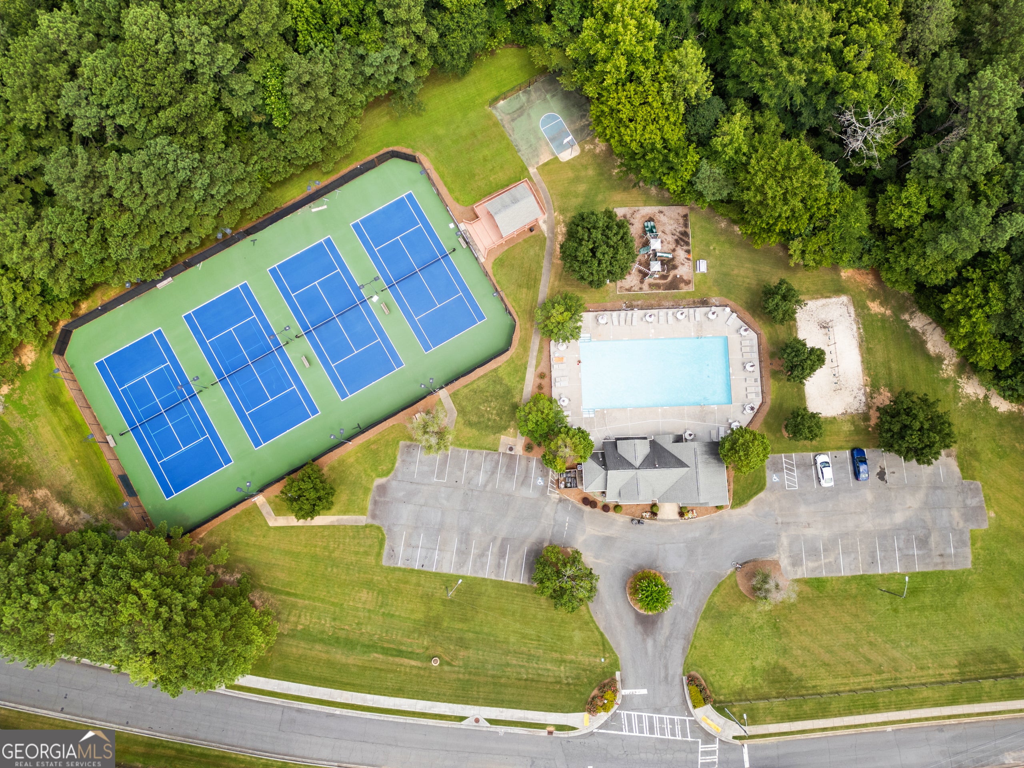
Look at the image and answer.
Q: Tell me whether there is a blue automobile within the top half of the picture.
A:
No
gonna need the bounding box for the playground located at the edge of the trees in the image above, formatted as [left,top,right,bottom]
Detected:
[613,205,695,294]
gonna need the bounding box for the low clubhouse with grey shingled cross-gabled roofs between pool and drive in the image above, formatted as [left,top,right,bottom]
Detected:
[582,433,729,506]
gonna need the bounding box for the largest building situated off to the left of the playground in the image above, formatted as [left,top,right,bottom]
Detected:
[464,178,546,258]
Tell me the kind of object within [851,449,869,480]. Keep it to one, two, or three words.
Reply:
car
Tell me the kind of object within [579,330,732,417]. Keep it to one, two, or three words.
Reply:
swimming pool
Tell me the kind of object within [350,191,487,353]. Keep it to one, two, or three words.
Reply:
tennis court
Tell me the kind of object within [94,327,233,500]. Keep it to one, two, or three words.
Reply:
tennis court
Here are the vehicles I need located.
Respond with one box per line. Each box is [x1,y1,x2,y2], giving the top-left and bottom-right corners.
[815,455,833,486]
[851,449,869,480]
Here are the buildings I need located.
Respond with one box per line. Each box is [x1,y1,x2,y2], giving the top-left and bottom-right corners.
[582,433,729,506]
[464,178,546,258]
